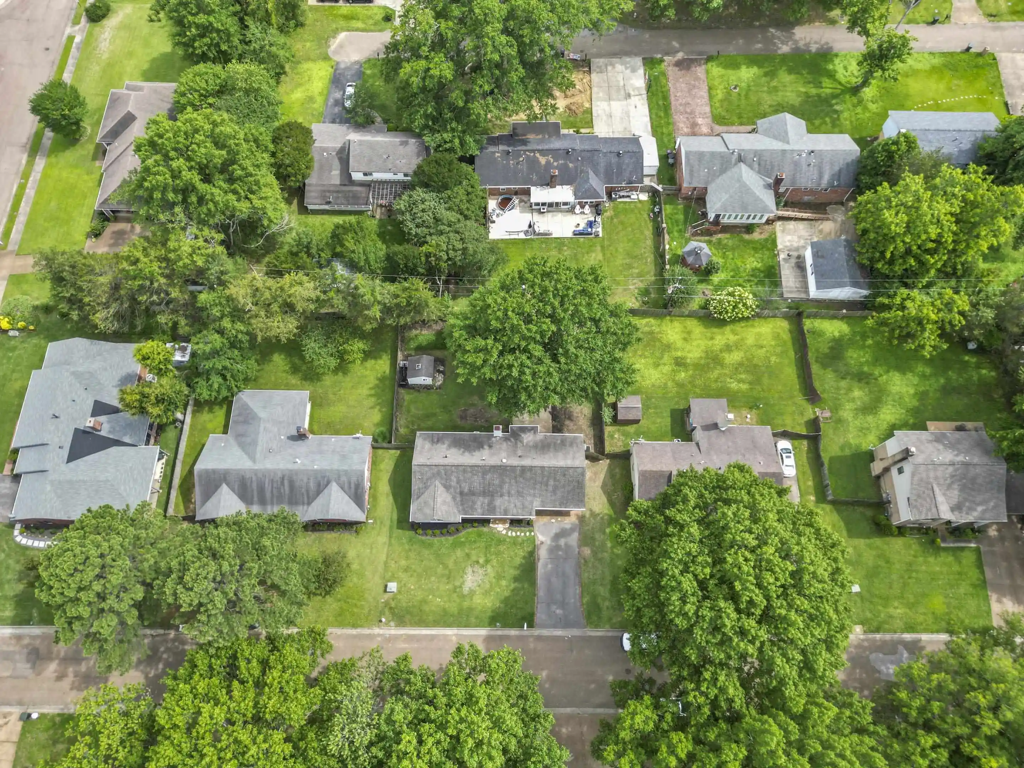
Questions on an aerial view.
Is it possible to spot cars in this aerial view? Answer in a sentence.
Yes, the image includes a car.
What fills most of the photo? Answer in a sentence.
The largest share of the image is taken up by trees.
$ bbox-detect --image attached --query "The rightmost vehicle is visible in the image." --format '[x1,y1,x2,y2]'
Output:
[775,439,799,478]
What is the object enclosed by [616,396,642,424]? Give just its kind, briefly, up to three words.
shed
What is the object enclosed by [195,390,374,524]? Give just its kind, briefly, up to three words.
house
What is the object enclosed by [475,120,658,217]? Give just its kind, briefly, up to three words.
house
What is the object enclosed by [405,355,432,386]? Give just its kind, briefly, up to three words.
shed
